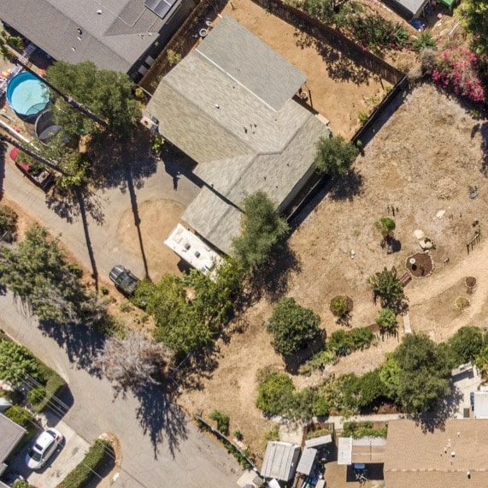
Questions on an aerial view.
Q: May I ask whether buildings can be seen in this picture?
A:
Yes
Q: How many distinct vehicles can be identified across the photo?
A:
4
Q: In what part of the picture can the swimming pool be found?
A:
top left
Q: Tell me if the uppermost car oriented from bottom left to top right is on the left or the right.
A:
left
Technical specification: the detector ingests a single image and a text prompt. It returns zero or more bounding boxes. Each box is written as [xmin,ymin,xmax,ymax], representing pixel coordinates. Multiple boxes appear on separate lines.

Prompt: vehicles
[5,148,53,188]
[21,426,64,470]
[100,259,143,303]
[153,218,240,285]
